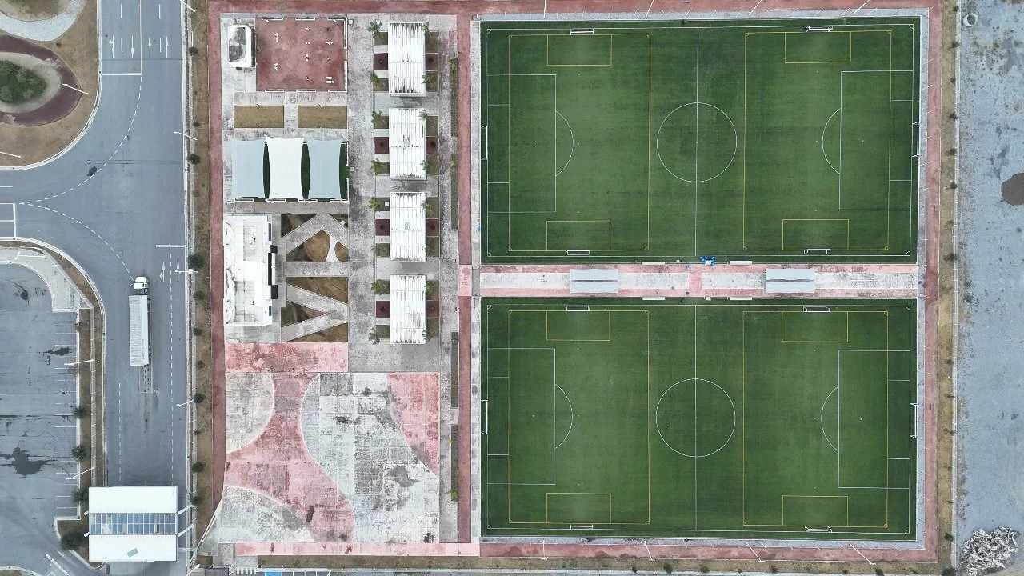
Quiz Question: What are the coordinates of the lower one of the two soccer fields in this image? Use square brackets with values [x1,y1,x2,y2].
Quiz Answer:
[480,297,919,541]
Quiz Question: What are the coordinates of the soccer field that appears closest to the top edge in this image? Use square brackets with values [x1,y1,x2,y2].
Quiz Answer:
[480,14,922,265]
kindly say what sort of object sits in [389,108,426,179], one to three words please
building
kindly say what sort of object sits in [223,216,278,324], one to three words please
building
